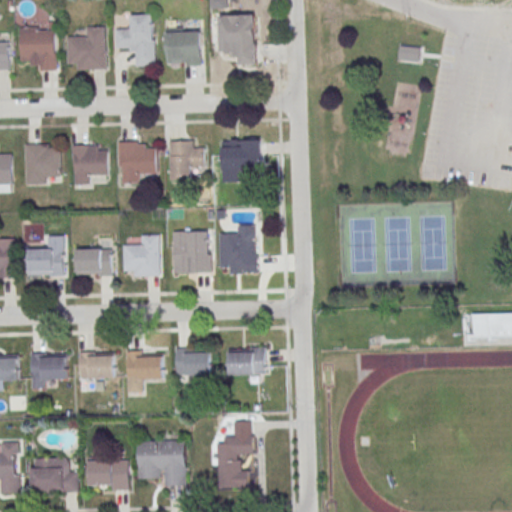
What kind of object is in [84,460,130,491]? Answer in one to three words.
house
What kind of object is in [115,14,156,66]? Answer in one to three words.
house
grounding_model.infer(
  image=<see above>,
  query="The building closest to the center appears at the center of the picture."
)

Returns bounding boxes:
[220,224,259,274]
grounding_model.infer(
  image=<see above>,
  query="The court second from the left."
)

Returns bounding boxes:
[383,217,412,273]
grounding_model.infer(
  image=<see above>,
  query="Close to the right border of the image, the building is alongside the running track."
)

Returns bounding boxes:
[466,312,512,346]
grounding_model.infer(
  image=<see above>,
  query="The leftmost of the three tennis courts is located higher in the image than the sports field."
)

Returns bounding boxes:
[348,218,378,274]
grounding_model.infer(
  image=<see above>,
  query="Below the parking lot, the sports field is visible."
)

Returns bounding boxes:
[355,366,512,512]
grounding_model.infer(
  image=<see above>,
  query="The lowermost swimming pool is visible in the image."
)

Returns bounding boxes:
[44,430,77,448]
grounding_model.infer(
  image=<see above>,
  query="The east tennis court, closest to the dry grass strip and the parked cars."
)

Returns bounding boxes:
[420,216,448,272]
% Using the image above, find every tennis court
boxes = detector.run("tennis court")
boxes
[383,217,412,273]
[420,216,448,272]
[348,218,378,274]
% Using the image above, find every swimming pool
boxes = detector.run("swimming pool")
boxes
[44,430,77,448]
[232,212,255,224]
[18,0,36,18]
[0,398,10,413]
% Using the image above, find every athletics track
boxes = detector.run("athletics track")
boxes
[339,350,512,512]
